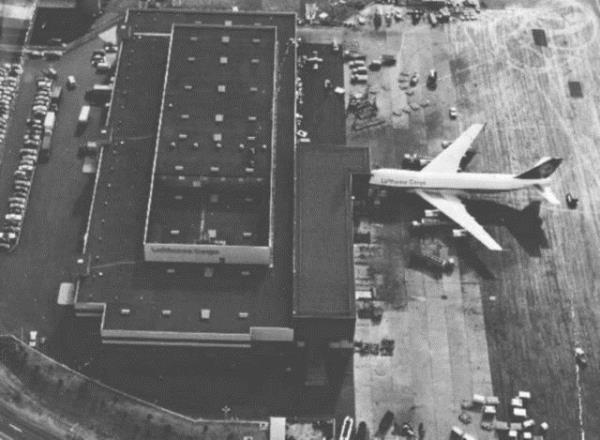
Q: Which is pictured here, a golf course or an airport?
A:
airport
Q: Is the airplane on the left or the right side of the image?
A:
right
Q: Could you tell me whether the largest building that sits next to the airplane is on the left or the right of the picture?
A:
left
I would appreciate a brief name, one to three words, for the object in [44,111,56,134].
vehicle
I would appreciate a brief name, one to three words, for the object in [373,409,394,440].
bus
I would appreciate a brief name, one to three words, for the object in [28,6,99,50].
shed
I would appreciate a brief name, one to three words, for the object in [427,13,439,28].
vehicle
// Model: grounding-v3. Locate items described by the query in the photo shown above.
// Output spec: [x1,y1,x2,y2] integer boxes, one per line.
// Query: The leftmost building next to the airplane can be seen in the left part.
[74,5,296,350]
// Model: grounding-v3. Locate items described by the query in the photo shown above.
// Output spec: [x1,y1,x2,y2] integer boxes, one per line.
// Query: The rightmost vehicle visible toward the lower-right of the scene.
[571,348,588,364]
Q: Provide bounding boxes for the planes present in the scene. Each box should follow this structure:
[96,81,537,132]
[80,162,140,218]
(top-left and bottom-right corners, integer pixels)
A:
[368,123,566,247]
